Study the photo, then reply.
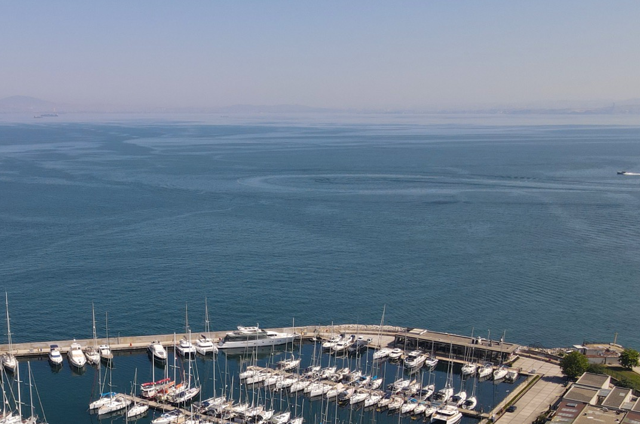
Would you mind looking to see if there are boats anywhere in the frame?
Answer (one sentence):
Yes, the picture does show a boat.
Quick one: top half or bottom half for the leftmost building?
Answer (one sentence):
The leftmost building is in the bottom half of the image.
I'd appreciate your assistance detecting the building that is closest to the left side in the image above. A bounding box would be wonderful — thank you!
[395,328,520,363]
